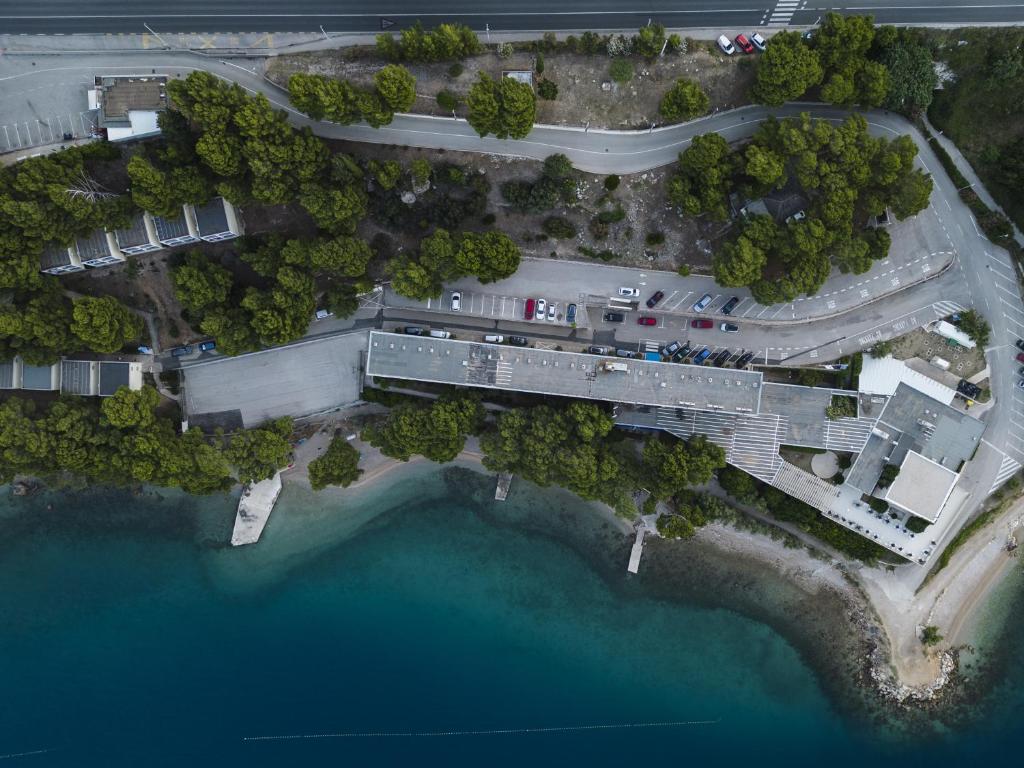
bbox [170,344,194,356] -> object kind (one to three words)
vehicle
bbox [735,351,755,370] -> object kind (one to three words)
car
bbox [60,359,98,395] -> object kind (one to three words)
house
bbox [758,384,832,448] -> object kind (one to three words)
building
